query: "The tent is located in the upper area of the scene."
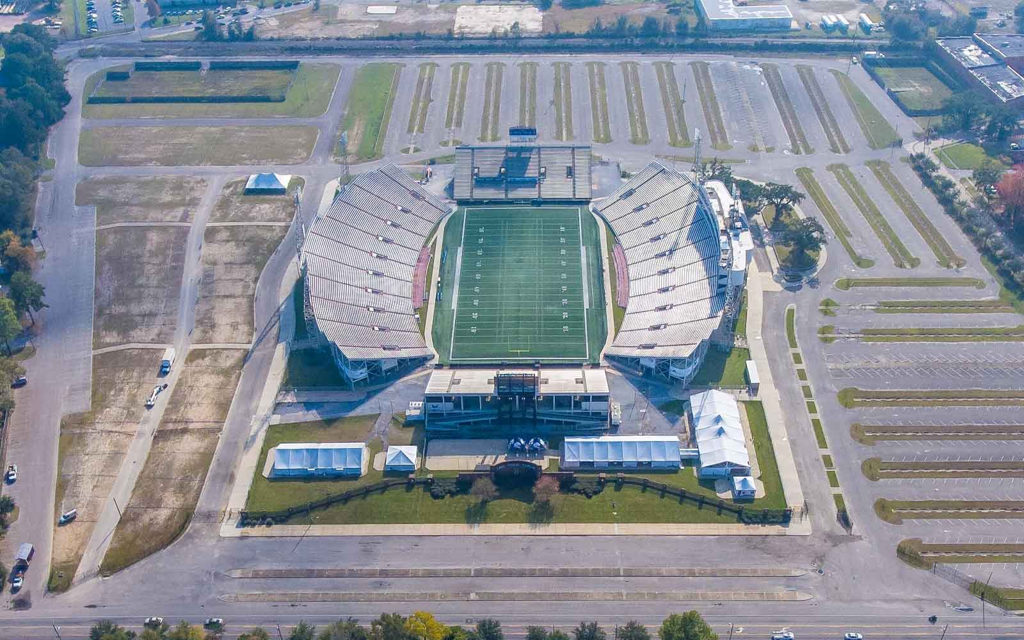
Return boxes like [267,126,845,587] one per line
[244,172,288,193]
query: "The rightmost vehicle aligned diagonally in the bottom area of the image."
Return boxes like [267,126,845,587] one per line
[144,380,163,404]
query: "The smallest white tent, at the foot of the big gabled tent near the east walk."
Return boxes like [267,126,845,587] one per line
[733,474,755,491]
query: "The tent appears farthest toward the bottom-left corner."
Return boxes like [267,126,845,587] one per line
[273,442,367,474]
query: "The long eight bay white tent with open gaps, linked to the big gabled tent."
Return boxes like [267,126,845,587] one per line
[563,436,680,468]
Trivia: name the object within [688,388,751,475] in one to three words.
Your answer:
tent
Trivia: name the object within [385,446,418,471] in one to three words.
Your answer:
tent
